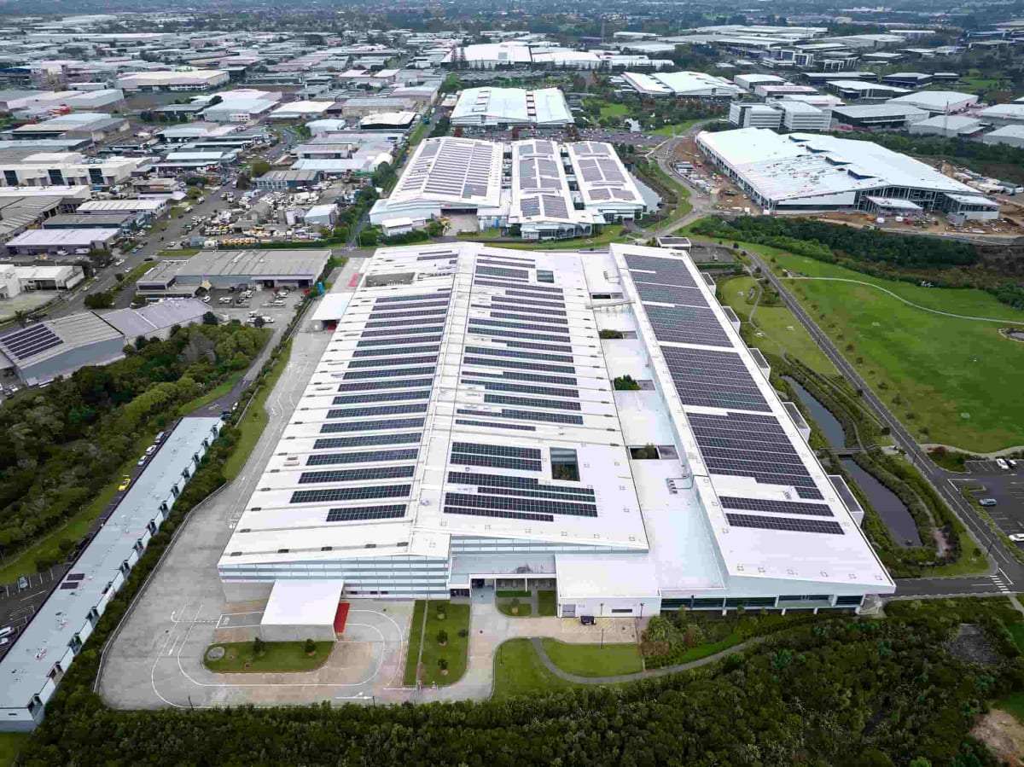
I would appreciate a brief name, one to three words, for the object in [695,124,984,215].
building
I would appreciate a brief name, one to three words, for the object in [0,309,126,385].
building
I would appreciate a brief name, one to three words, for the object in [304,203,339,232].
shed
